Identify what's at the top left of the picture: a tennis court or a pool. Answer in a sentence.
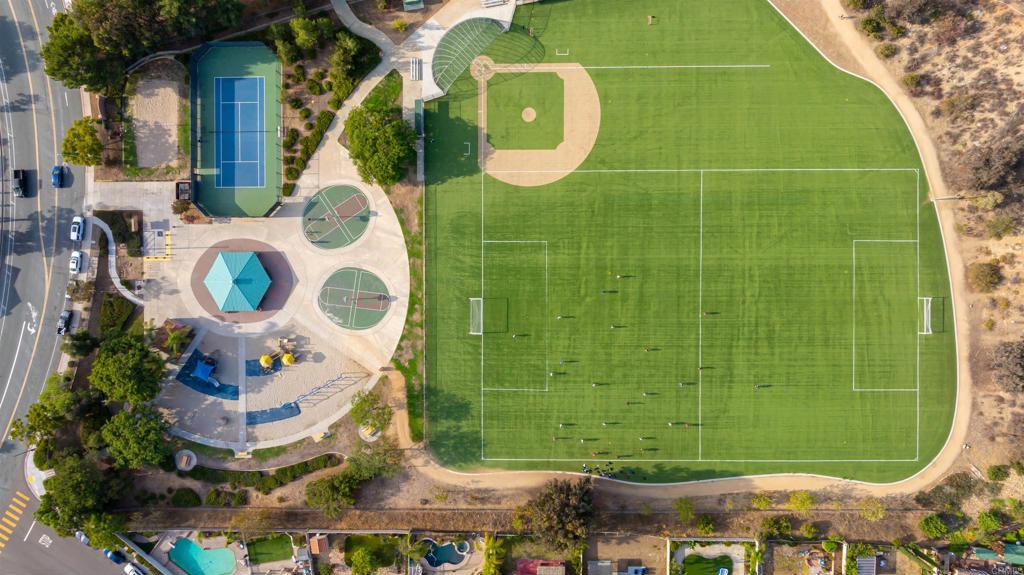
You can see a tennis court at the top left of the picture.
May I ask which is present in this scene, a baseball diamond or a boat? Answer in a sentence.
This aerial view contains a baseball diamond.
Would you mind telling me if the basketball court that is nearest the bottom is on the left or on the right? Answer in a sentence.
The basketball court that is nearest the bottom appears in the left half of the scene.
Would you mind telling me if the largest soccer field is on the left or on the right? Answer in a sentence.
You can find the largest soccer field on the right side of the picture.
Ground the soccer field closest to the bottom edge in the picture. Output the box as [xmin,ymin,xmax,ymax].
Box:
[482,169,919,461]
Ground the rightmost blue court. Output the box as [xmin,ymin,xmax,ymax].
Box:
[198,47,281,215]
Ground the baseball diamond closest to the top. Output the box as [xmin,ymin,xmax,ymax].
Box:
[463,49,770,186]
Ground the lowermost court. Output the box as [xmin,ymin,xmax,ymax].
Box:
[318,267,390,330]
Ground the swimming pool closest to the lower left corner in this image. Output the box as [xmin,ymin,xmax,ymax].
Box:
[165,537,237,575]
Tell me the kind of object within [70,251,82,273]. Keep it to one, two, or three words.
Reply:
vehicle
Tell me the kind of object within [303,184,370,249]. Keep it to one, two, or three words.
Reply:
basketball court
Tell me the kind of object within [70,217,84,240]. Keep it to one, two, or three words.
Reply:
car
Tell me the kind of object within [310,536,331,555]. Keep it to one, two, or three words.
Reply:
shed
